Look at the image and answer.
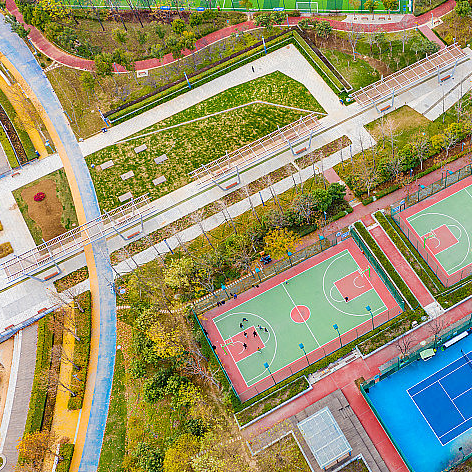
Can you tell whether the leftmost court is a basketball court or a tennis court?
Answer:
basketball court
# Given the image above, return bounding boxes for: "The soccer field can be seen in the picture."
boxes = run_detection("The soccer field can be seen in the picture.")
[0,0,413,16]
